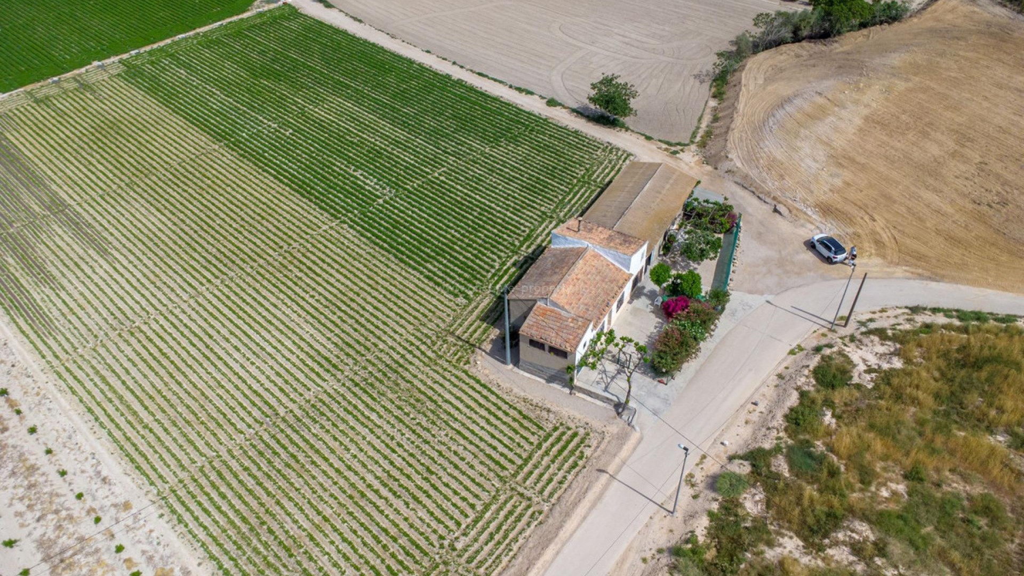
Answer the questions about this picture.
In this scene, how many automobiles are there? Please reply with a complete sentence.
I count just 1 automobile.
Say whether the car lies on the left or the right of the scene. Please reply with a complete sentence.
The car appears in the right half of the scene.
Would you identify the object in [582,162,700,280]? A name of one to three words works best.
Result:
barn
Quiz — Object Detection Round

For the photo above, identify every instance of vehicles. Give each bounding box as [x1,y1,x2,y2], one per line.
[810,235,850,264]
